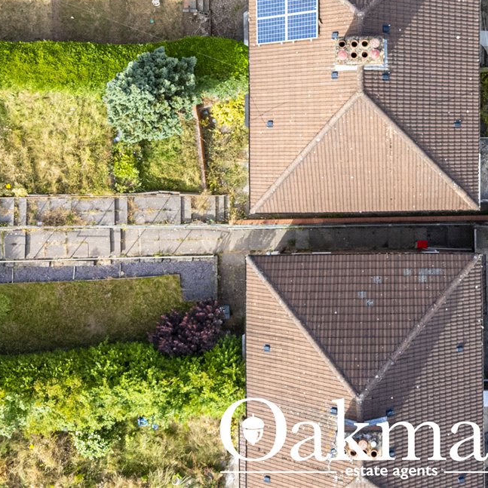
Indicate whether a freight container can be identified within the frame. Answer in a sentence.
No, the picture doesn't show any freight container.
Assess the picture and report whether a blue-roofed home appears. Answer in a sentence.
No, the picture doesn't show any blue-roofed home.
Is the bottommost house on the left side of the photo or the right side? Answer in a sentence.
The bottommost house sits on the right side.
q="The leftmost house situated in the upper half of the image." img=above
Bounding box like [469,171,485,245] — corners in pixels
[245,0,482,216]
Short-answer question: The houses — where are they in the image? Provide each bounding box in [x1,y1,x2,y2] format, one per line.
[245,0,482,216]
[244,245,484,488]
